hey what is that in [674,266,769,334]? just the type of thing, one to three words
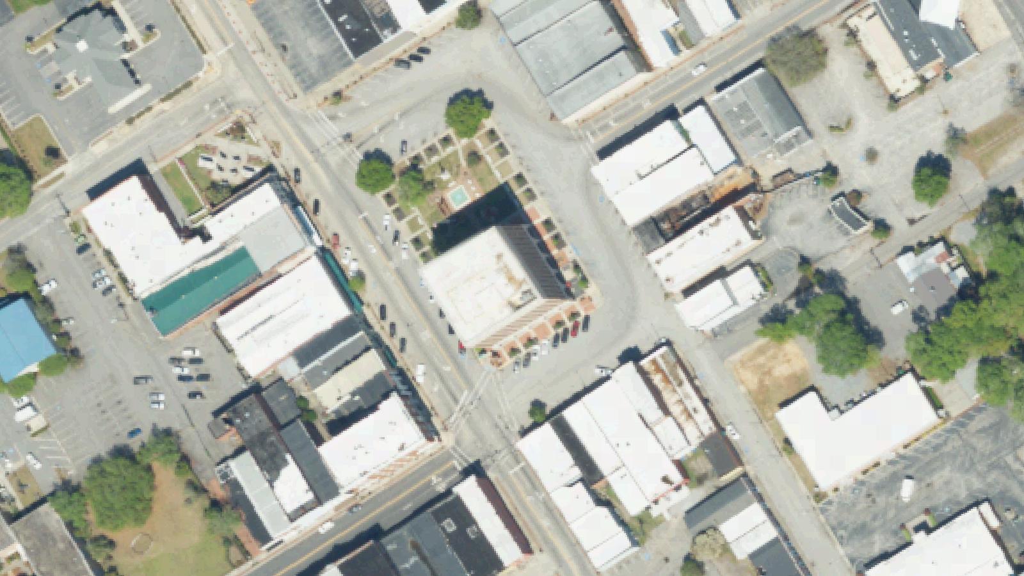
building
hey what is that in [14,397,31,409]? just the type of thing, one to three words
vehicle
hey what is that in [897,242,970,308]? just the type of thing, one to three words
house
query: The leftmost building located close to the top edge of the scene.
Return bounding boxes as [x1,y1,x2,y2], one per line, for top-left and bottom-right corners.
[53,9,137,105]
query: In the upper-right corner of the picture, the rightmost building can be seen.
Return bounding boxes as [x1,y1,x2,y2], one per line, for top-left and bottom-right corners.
[964,0,1015,53]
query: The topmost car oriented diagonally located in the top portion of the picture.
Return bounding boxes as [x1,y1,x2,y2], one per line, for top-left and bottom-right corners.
[691,63,707,75]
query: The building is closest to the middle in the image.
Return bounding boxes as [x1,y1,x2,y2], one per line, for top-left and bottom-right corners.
[421,214,580,359]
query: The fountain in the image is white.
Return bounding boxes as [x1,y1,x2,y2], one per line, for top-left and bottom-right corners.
[450,186,470,207]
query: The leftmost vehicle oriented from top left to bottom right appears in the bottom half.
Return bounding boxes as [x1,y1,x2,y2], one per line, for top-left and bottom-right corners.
[25,451,41,469]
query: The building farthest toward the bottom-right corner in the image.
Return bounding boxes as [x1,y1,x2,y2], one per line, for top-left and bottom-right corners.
[864,501,1024,576]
